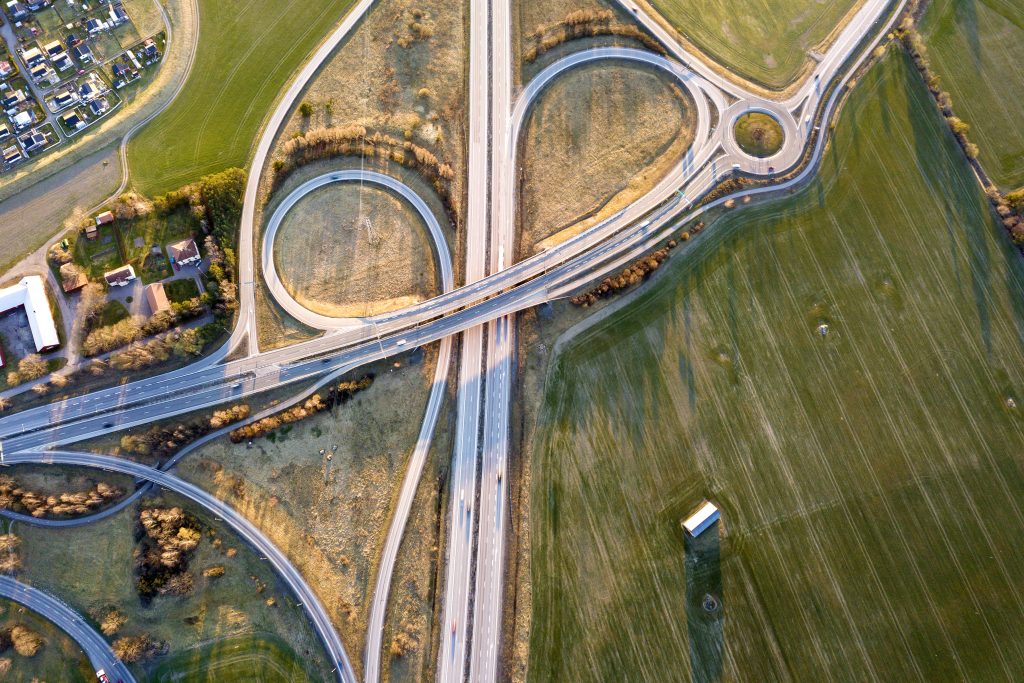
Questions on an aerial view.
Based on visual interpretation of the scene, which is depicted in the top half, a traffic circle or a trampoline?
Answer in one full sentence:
The feature located in the top half is a traffic circle.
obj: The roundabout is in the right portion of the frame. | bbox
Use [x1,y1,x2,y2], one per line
[717,100,801,171]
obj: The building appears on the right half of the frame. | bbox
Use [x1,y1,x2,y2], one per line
[680,502,718,536]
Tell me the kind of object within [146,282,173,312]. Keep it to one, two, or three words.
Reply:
barn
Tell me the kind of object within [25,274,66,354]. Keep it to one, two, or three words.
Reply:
barn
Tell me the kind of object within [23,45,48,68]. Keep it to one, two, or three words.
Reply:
house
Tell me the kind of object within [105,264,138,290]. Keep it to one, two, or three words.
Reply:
house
